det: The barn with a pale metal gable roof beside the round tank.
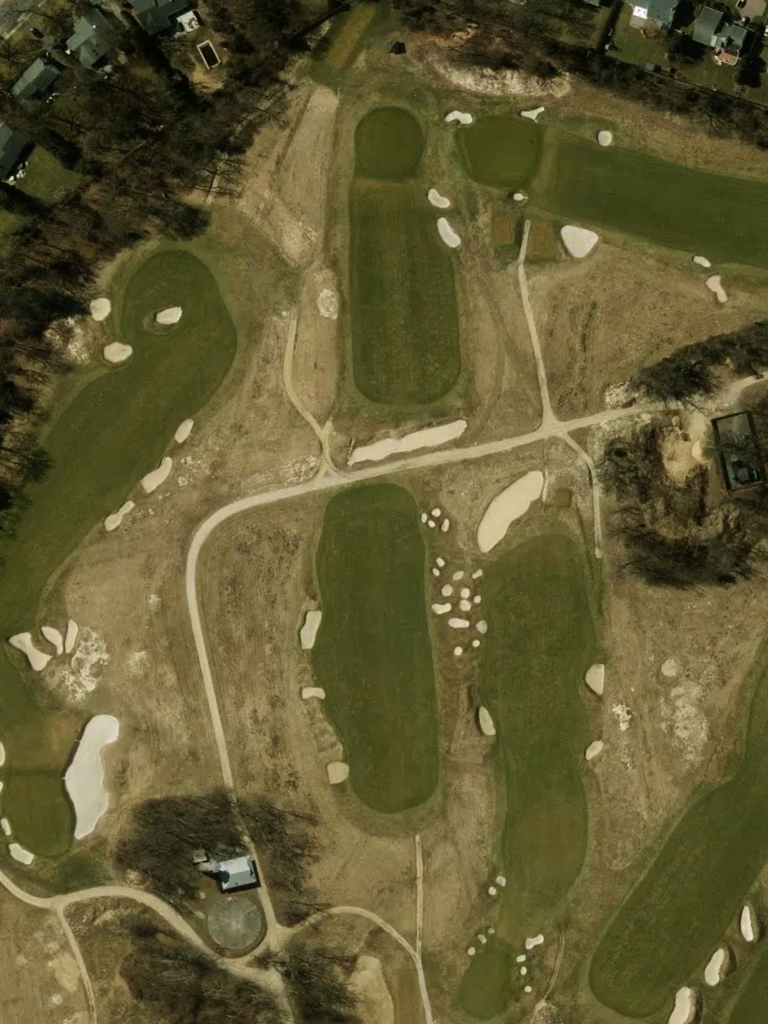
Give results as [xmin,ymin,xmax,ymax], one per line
[198,858,258,890]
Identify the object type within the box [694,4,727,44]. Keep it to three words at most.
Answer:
house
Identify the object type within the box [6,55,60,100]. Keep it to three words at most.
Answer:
house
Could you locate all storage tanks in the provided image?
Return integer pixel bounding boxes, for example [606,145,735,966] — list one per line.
[209,898,262,951]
